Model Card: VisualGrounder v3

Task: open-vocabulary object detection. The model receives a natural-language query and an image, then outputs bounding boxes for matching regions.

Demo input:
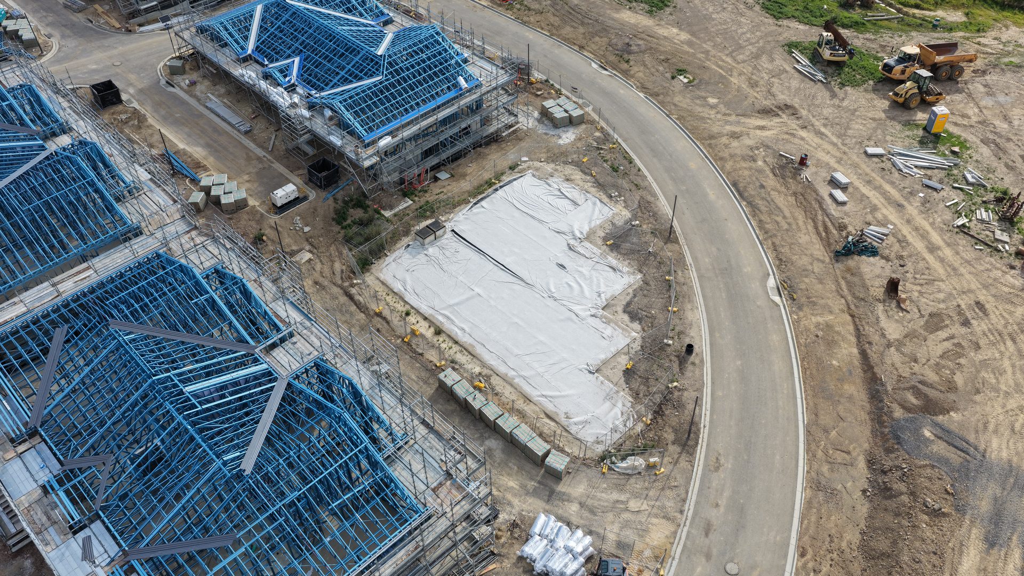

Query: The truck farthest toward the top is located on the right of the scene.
[878,37,988,84]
